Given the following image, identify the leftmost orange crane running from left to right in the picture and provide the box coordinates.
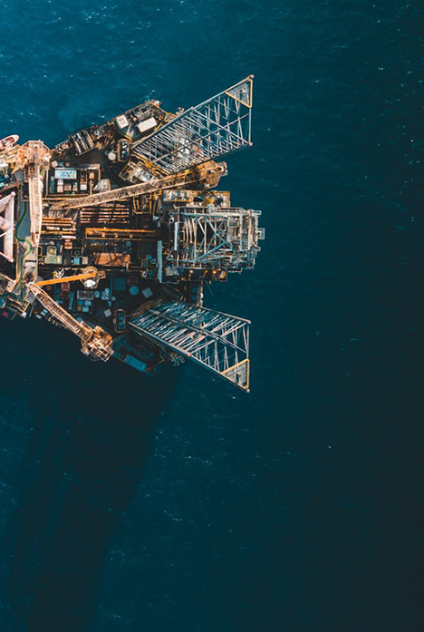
[34,268,97,287]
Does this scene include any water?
Yes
